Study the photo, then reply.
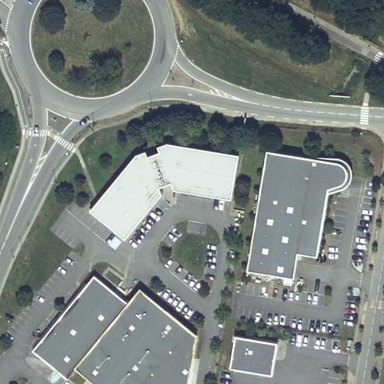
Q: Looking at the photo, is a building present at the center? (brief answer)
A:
Yes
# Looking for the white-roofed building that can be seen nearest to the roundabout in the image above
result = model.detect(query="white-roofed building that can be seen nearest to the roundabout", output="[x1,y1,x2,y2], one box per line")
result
[90,144,238,240]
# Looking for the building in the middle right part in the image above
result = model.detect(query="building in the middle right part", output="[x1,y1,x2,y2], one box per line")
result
[247,153,353,286]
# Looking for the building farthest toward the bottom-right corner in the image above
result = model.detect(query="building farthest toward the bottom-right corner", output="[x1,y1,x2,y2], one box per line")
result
[228,338,278,378]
